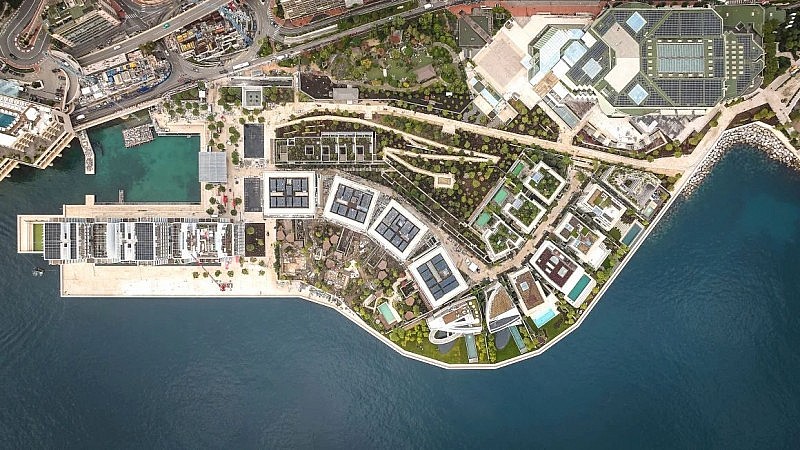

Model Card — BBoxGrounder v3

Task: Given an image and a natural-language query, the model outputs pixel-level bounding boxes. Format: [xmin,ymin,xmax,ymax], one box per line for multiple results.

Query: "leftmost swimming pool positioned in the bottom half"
[376,302,398,326]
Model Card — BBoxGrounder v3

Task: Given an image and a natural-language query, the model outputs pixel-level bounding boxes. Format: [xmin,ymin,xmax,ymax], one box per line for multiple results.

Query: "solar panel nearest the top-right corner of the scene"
[738,36,762,59]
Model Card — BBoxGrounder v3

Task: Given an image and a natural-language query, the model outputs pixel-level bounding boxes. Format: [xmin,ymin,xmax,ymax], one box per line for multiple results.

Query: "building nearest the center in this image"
[368,198,428,259]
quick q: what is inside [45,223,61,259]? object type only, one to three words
solar panel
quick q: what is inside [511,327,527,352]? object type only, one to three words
swimming pool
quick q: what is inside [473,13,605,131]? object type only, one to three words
building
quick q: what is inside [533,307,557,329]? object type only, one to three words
swimming pool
